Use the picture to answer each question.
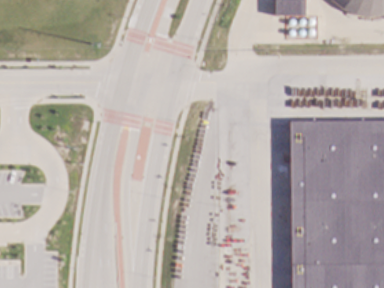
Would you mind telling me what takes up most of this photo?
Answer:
paved ground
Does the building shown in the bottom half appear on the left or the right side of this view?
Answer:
right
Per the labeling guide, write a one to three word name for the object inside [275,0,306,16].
shed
